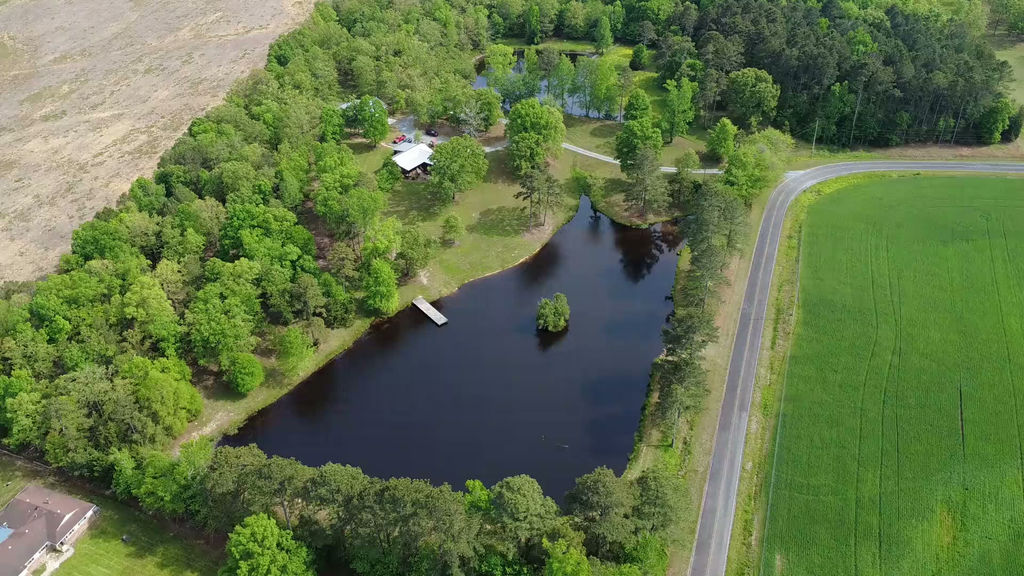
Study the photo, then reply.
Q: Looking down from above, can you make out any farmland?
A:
Yes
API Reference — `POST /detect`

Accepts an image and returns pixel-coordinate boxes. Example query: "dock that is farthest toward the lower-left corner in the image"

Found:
[413,298,449,328]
